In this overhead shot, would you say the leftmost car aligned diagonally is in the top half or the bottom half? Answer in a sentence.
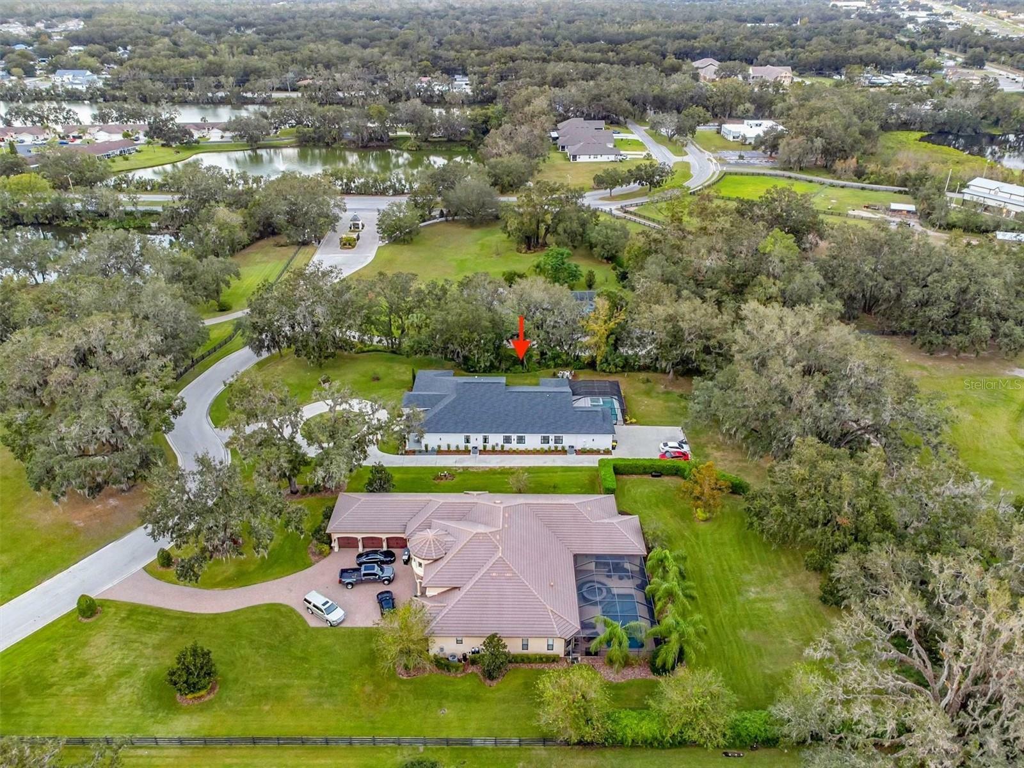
It is in the bottom half that the leftmost car aligned diagonally appears.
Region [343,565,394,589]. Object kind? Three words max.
truck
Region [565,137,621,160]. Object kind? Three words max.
house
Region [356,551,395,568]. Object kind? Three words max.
car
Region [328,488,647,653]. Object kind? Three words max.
house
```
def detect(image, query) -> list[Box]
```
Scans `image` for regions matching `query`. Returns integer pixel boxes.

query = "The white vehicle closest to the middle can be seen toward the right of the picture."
[659,438,689,453]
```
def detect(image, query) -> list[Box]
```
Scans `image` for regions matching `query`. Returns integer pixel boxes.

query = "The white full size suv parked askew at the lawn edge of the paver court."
[303,590,346,626]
